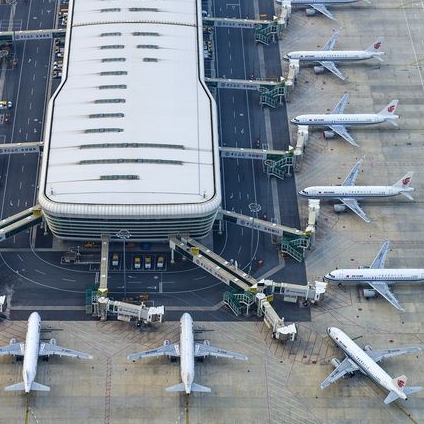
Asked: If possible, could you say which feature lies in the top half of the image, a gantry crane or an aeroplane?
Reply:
aeroplane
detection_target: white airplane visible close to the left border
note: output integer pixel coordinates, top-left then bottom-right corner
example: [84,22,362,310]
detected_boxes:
[0,311,89,394]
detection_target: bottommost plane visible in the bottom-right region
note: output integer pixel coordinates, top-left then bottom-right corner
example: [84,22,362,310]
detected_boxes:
[321,327,422,402]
